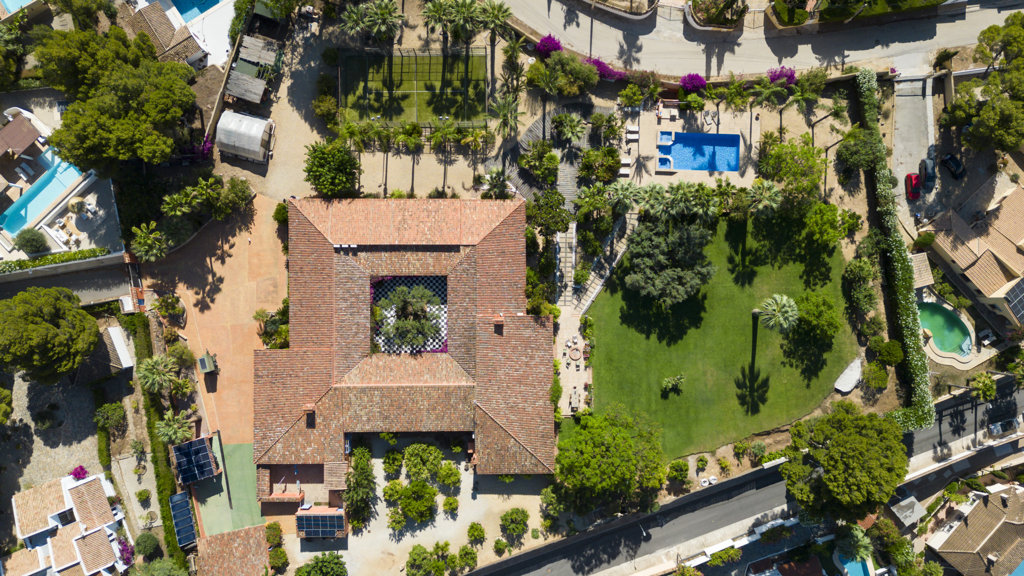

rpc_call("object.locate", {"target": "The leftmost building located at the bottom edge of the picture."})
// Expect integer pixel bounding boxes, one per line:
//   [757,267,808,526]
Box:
[0,468,135,576]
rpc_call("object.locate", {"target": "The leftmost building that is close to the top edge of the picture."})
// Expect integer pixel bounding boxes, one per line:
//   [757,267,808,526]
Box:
[127,2,215,70]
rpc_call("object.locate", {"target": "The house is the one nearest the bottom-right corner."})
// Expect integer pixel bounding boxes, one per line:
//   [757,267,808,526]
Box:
[917,485,1024,576]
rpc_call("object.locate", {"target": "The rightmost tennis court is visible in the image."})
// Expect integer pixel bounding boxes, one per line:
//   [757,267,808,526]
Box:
[339,52,488,127]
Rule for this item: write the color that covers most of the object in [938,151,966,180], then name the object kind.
black car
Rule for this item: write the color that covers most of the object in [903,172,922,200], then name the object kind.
red car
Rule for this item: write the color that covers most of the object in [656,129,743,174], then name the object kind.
blue swimming pool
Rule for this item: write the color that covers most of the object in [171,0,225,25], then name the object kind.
blue swimming pool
